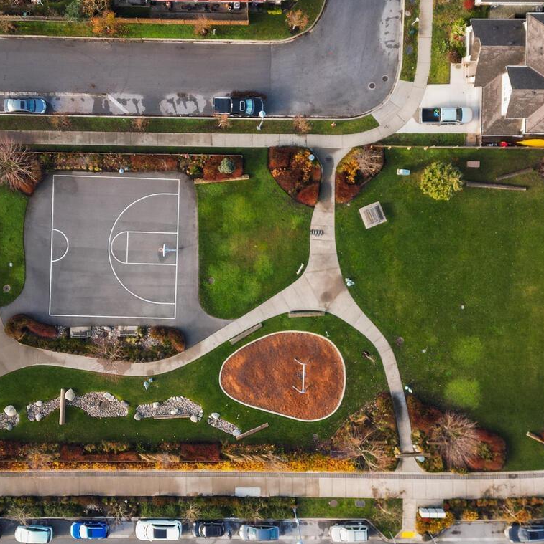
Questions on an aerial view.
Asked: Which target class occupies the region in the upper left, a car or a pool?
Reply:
car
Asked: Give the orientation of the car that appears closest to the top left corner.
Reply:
from side to side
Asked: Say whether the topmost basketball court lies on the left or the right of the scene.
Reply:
left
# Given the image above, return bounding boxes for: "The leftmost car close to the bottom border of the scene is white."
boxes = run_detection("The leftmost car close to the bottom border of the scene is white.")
[14,525,52,544]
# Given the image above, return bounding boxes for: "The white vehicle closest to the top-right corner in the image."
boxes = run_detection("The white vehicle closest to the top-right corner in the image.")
[422,102,475,124]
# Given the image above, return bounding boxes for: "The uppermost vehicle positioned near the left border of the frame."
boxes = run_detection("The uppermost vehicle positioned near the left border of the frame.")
[2,94,45,115]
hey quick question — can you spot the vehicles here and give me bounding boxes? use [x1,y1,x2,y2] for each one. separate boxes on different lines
[136,520,181,544]
[195,521,226,543]
[422,102,475,124]
[213,93,264,116]
[240,524,280,544]
[14,525,52,544]
[69,522,108,544]
[2,94,45,115]
[507,523,544,544]
[330,524,370,544]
